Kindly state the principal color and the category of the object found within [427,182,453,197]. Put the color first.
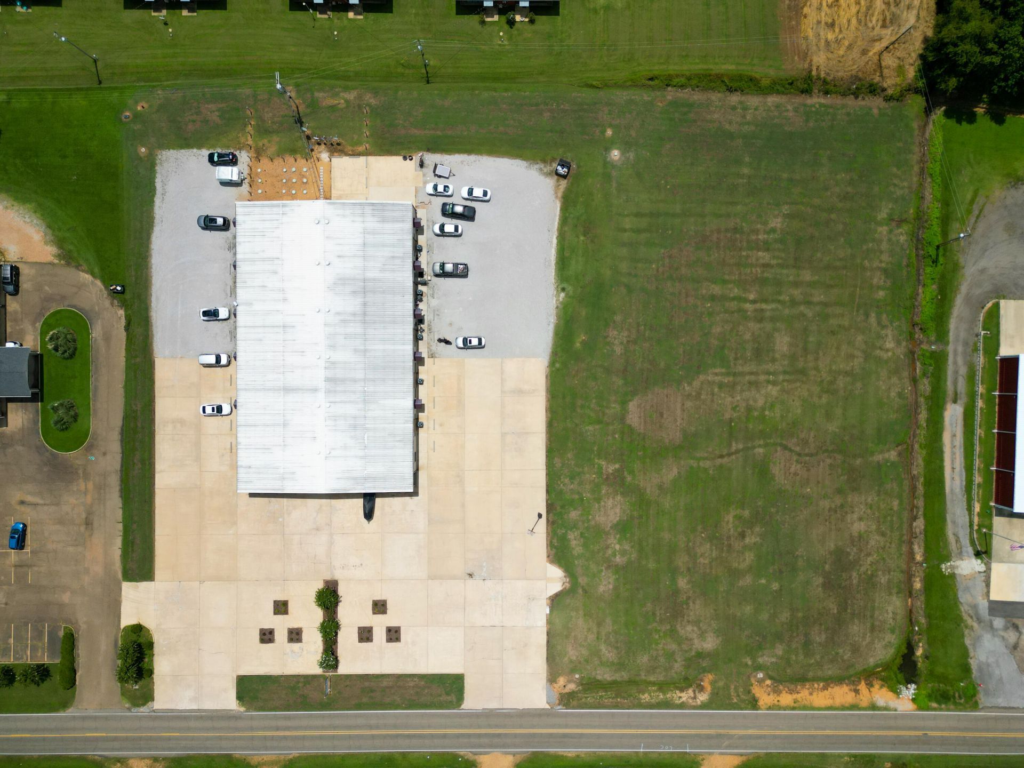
white car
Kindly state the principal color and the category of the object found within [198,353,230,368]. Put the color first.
white vehicle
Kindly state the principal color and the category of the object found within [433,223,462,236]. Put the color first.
white vehicle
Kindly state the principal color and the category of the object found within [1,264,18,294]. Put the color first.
black car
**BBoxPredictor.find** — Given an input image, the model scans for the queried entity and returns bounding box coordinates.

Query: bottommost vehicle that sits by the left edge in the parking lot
[10,522,26,550]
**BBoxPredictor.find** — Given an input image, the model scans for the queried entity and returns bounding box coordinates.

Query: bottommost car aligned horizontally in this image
[200,403,231,417]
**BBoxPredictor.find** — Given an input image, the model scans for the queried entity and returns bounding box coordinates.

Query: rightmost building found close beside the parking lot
[232,198,423,495]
